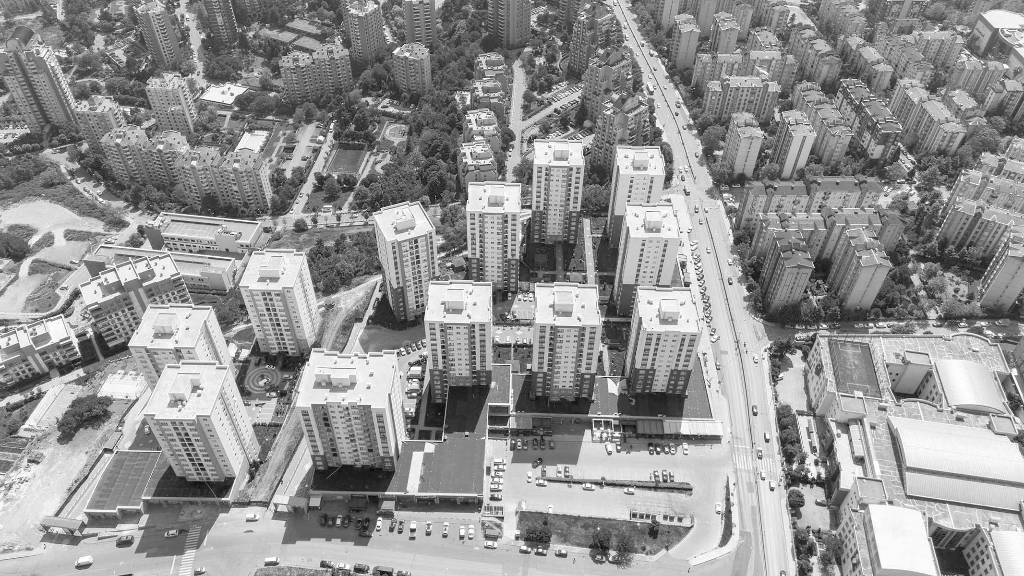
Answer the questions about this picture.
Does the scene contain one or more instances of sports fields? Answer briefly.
Yes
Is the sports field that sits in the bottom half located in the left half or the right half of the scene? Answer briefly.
right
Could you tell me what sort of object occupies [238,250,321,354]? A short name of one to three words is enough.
building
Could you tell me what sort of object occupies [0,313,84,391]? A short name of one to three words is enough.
building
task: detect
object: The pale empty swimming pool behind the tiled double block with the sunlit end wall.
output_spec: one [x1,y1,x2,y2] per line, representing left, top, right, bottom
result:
[239,132,267,149]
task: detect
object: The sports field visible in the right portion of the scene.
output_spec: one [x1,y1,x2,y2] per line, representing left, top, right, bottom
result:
[828,341,880,398]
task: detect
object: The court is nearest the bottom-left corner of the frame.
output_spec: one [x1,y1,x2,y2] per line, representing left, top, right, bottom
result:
[18,384,87,433]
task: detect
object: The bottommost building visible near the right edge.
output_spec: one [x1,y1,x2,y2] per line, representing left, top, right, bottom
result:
[807,332,1024,576]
